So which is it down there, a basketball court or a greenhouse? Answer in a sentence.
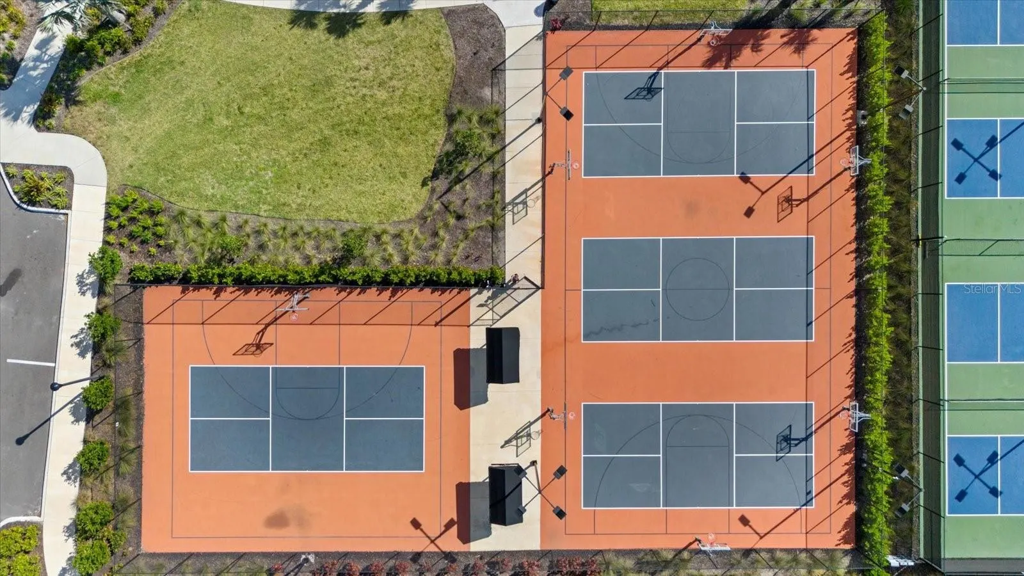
The image shows a basketball court.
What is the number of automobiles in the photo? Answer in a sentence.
No automobiles are visible.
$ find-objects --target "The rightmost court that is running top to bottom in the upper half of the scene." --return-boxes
[947,0,1024,199]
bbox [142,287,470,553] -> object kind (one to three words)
basketball court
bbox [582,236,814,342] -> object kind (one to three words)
sports court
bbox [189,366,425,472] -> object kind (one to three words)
sports court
